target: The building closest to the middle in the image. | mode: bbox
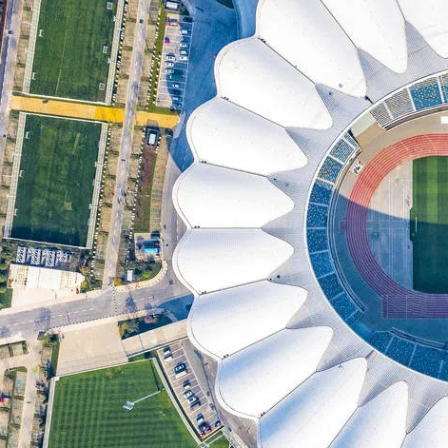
[139,236,162,255]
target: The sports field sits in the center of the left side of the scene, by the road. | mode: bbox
[0,110,107,249]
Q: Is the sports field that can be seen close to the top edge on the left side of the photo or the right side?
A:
left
